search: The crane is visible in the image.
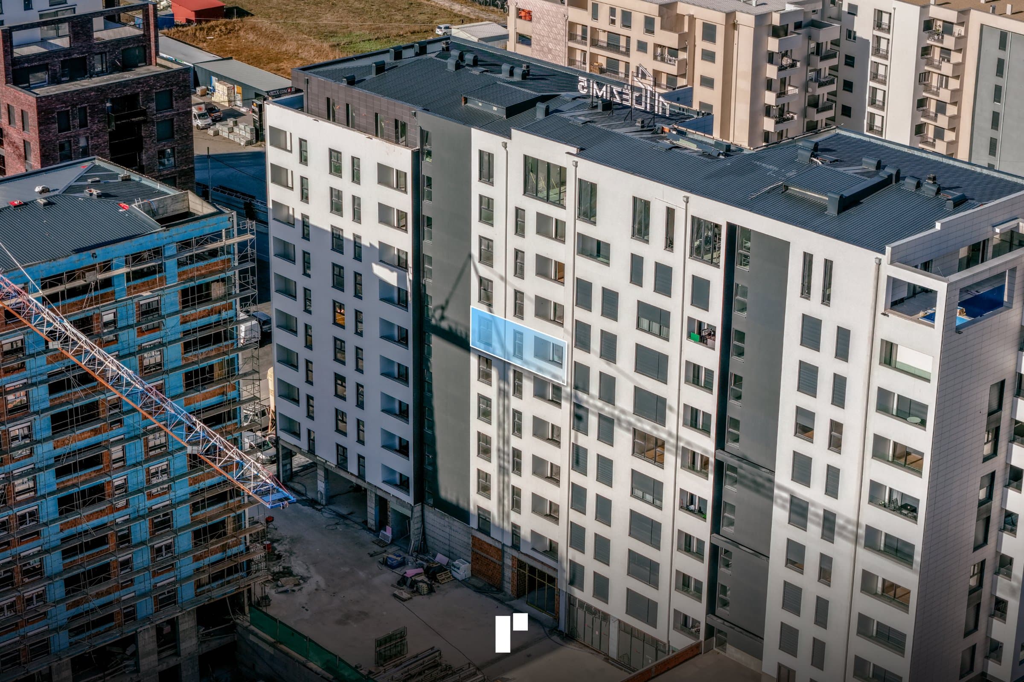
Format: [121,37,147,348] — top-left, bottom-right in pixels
[0,253,302,511]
